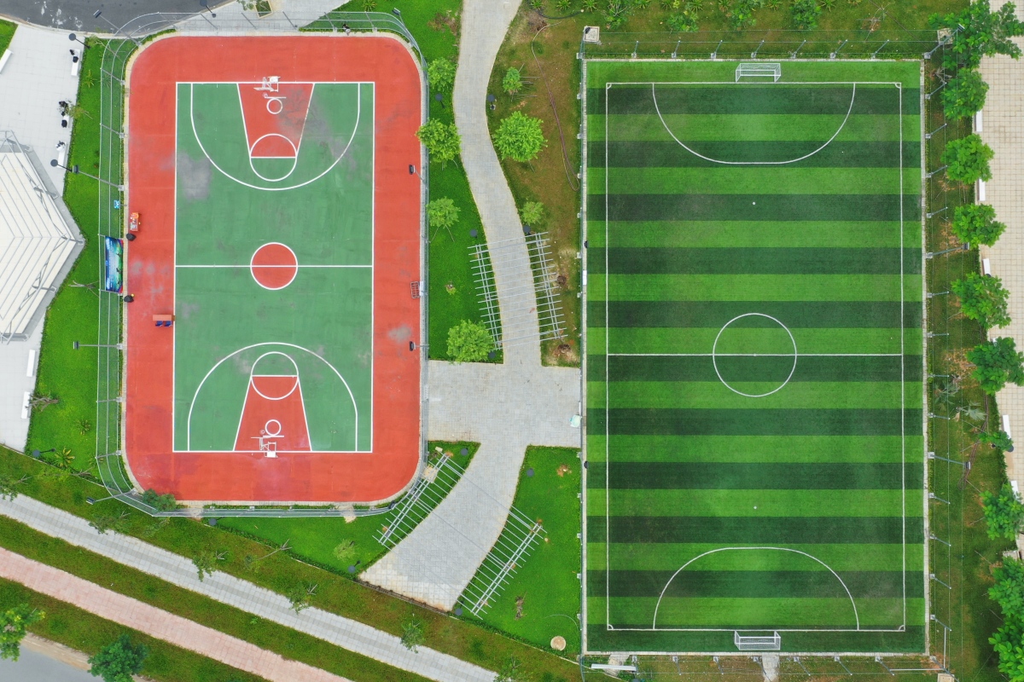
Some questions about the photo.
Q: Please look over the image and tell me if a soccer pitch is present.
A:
Yes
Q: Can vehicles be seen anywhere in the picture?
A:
No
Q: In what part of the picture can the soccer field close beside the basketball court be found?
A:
right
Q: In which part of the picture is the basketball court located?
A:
left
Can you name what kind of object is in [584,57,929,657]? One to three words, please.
soccer field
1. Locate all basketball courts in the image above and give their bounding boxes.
[120,31,426,507]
